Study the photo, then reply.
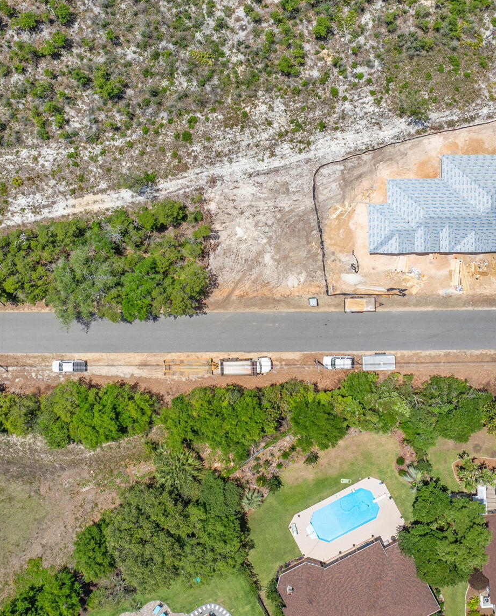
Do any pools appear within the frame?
Yes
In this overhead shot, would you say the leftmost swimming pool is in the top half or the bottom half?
bottom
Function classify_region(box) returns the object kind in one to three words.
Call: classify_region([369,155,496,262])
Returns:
house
